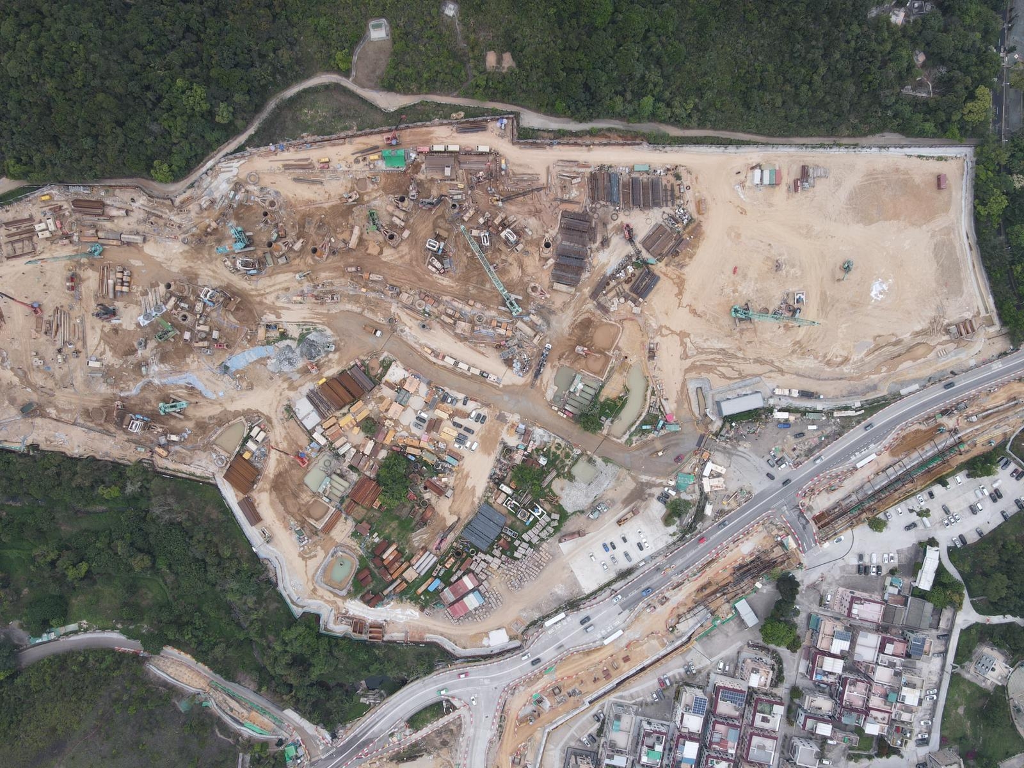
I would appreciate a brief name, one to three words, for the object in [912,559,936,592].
shed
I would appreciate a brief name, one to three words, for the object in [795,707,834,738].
house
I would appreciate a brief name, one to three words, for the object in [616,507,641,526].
vehicle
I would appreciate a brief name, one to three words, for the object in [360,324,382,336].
vehicle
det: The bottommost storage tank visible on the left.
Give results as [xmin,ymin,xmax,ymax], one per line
[319,471,350,502]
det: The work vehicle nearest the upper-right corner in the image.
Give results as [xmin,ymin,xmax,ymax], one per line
[838,255,858,281]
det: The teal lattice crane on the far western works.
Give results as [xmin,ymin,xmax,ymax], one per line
[24,240,105,267]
